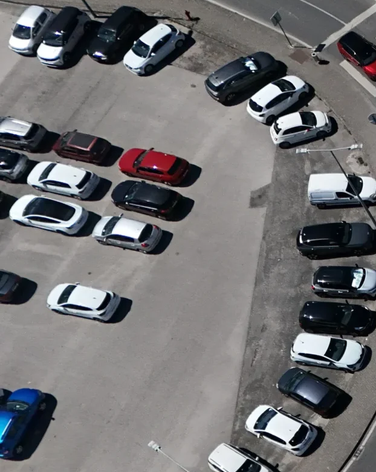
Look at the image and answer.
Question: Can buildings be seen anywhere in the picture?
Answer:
No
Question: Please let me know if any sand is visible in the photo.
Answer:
No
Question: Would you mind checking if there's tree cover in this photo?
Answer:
No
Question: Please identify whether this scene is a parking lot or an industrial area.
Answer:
parking lot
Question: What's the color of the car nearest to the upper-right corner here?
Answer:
black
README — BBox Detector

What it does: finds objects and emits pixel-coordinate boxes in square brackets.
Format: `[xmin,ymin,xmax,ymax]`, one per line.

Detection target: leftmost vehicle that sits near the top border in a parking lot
[11,7,60,54]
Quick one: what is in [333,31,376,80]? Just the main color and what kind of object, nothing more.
black car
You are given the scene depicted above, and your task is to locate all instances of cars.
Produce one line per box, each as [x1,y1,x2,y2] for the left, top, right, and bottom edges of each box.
[288,336,368,378]
[45,284,123,327]
[246,405,319,458]
[92,217,163,258]
[272,113,333,152]
[128,26,190,77]
[250,80,316,127]
[310,265,376,302]
[28,163,101,205]
[276,368,344,423]
[40,14,94,67]
[0,149,34,186]
[199,436,271,472]
[92,10,155,65]
[10,198,91,241]
[0,392,43,466]
[0,115,52,158]
[296,221,376,260]
[333,31,376,80]
[208,58,282,106]
[0,271,27,307]
[110,182,183,224]
[118,148,193,190]
[297,301,375,340]
[11,7,60,54]
[50,131,114,171]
